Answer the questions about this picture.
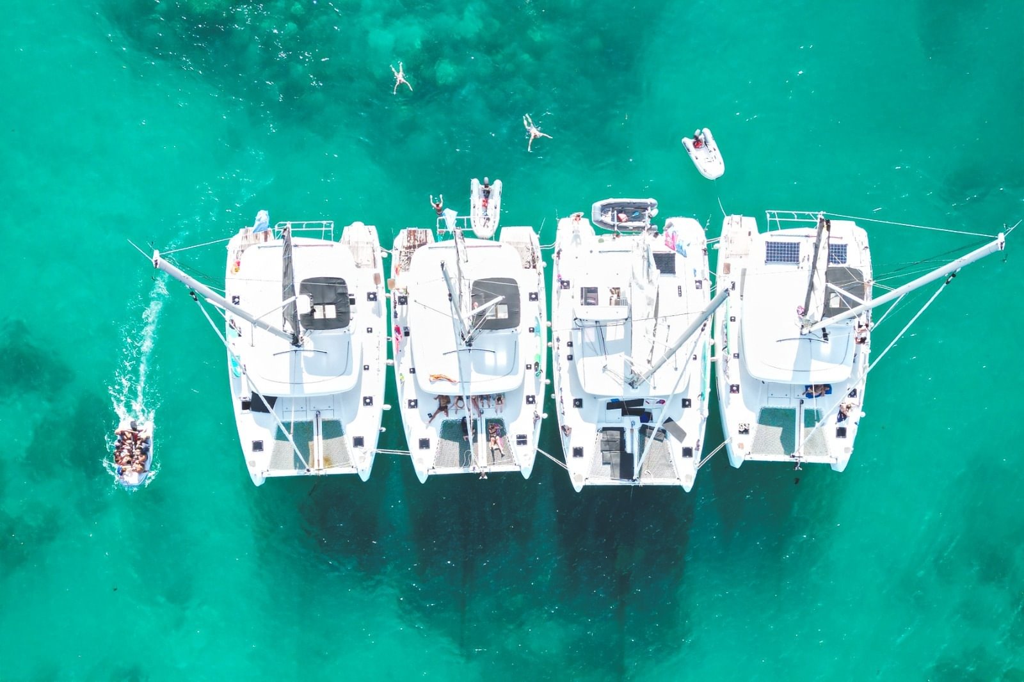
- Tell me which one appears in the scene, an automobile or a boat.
boat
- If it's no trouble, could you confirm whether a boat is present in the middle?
Yes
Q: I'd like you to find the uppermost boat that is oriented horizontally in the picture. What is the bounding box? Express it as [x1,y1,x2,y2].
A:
[593,198,665,230]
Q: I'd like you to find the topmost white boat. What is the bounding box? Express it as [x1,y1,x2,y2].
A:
[681,121,724,176]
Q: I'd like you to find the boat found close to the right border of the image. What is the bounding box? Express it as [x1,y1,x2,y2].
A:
[711,202,1024,476]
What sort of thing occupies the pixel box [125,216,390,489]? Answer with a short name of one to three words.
boat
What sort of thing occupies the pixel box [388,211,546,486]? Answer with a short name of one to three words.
boat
